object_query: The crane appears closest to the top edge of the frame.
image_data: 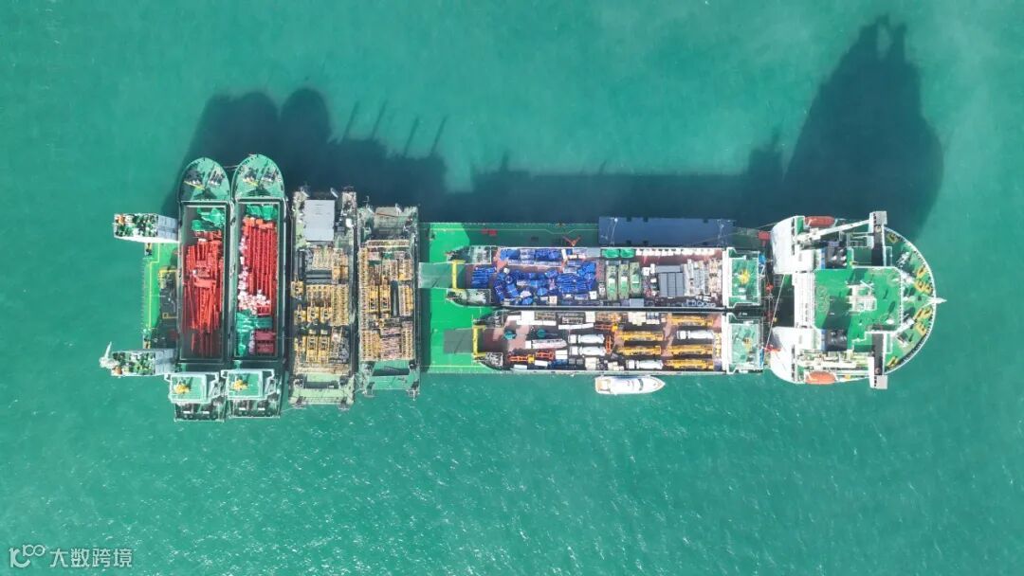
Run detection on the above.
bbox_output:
[789,217,867,249]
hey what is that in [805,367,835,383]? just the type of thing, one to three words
boat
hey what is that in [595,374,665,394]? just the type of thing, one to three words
boat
